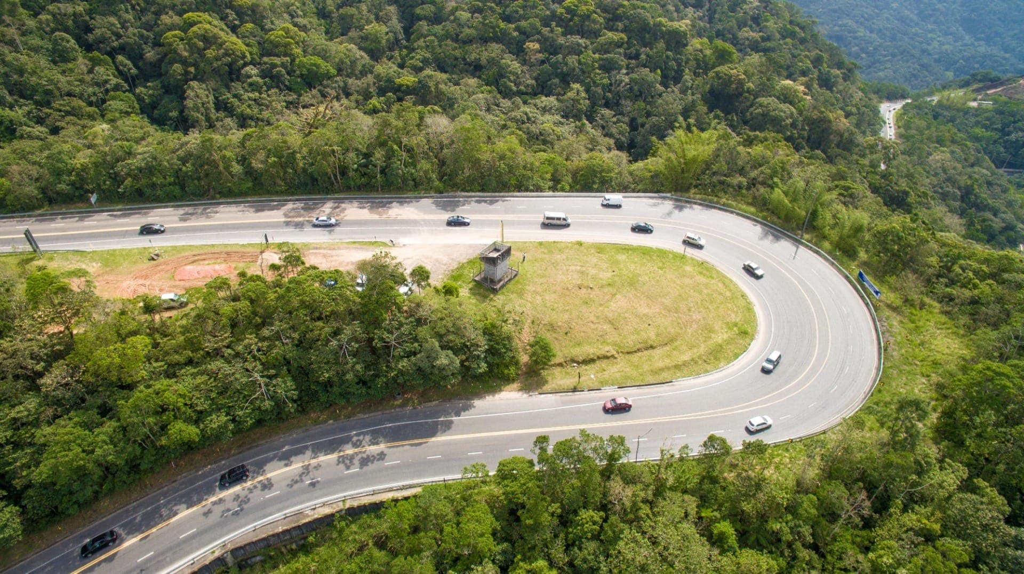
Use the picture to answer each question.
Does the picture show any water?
No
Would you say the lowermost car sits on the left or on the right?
left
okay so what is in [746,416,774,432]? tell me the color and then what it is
white car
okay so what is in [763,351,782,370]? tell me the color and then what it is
white car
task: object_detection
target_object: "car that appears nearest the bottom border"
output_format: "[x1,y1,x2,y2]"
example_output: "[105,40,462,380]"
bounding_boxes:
[79,531,117,558]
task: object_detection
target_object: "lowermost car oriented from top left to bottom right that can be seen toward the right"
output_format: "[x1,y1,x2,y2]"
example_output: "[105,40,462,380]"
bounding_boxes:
[743,261,764,277]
